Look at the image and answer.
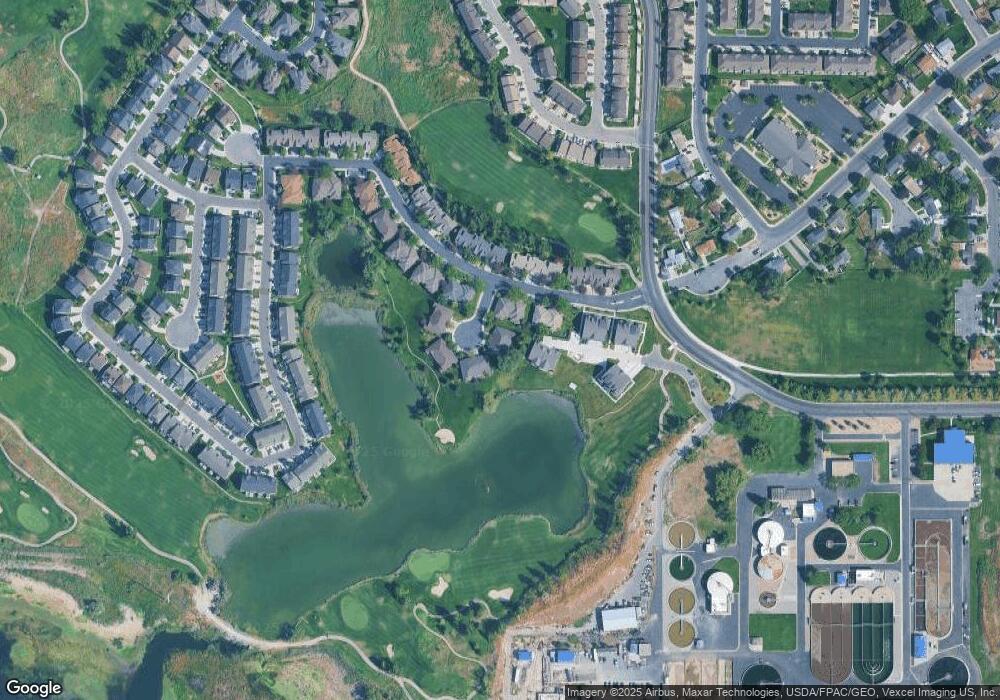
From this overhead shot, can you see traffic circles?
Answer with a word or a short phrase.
No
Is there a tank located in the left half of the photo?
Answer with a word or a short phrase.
No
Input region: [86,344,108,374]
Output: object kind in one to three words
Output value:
house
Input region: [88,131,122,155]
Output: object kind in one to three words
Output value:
house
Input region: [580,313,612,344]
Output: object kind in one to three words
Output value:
building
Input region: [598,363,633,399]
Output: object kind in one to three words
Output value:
building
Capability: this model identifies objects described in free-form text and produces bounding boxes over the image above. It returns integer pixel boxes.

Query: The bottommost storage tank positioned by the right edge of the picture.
[927,657,970,698]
